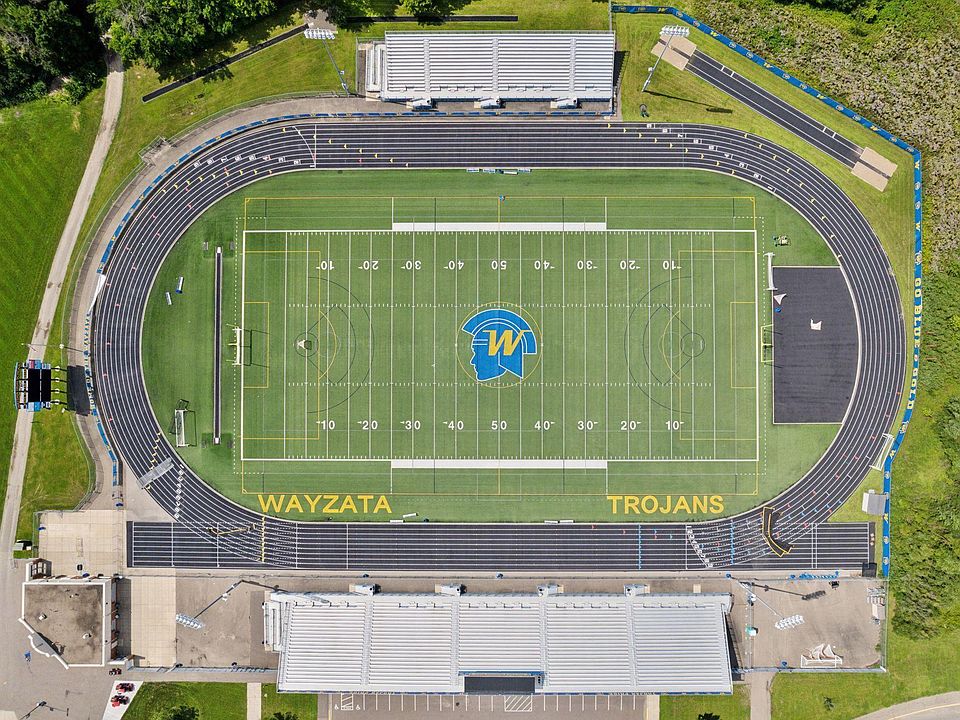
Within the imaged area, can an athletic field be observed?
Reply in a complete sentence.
Yes, an athletic field appears in the view.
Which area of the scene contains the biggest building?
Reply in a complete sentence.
You can find the biggest building in the bottom left area of the picture.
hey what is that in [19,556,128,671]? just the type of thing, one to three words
building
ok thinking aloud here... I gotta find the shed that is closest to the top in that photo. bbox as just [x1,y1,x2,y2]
[860,488,891,514]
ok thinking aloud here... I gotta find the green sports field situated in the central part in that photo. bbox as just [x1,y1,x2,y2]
[142,170,838,520]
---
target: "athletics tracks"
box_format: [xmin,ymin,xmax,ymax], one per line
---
[93,120,908,572]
